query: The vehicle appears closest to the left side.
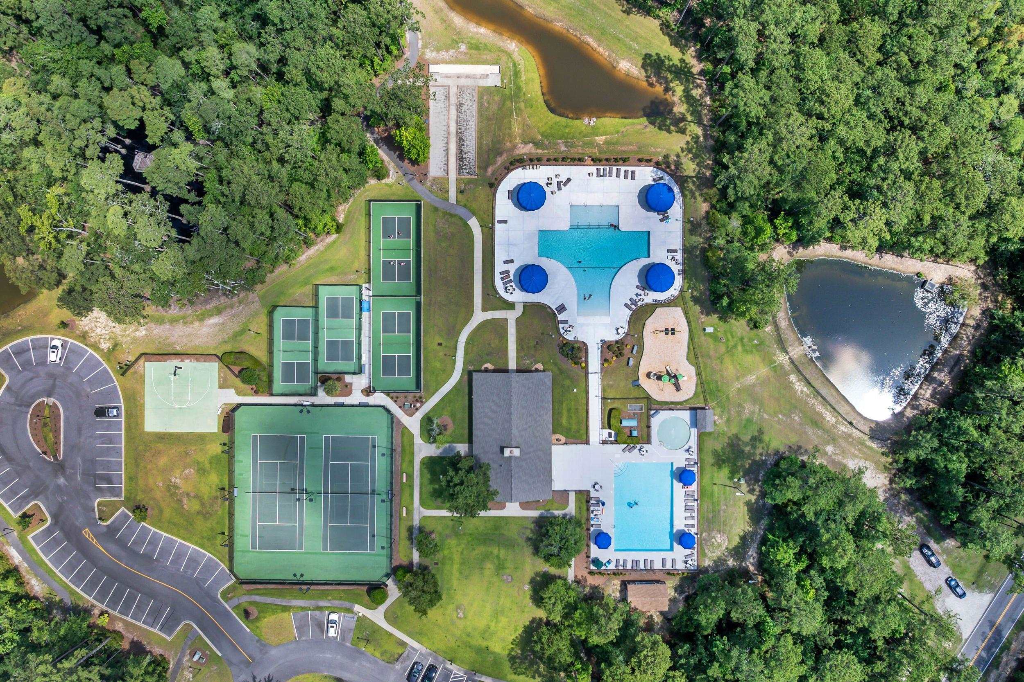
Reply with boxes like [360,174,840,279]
[50,339,64,363]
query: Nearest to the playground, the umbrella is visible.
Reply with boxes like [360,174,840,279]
[645,263,674,292]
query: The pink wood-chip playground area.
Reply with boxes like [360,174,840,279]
[639,308,696,401]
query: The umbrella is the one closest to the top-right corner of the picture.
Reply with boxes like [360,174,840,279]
[645,183,675,212]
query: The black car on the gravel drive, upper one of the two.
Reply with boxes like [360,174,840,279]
[920,544,939,569]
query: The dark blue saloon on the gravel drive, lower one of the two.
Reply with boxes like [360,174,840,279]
[944,576,965,599]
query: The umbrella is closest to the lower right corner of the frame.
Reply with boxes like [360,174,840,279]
[679,533,695,549]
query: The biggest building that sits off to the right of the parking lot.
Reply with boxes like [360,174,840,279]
[472,373,552,503]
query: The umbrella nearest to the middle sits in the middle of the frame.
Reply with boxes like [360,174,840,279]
[519,264,548,294]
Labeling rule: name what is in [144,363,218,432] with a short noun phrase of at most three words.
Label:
basketball court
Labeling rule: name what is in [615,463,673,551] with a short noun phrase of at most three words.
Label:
swimming pool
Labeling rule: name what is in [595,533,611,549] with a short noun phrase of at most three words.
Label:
umbrella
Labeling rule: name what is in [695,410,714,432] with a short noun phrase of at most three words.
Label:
building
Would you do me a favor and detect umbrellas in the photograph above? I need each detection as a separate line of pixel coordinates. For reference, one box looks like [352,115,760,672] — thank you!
[679,470,695,485]
[517,182,546,211]
[679,533,695,549]
[595,533,611,549]
[519,264,548,294]
[592,558,604,570]
[645,183,675,212]
[645,263,674,292]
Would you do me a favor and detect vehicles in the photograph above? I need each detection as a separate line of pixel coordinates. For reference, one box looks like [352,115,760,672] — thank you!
[92,407,118,417]
[920,544,939,569]
[944,576,965,599]
[421,666,438,682]
[327,612,340,636]
[406,663,424,682]
[50,339,64,363]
